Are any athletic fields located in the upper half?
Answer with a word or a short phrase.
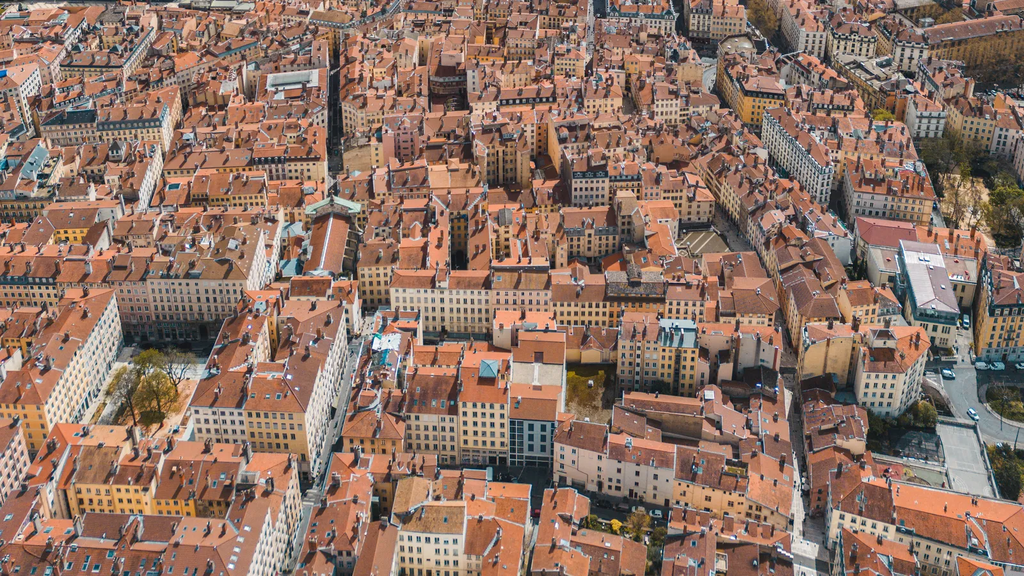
No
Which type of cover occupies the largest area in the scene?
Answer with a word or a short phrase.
buildings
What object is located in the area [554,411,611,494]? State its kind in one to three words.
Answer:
house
